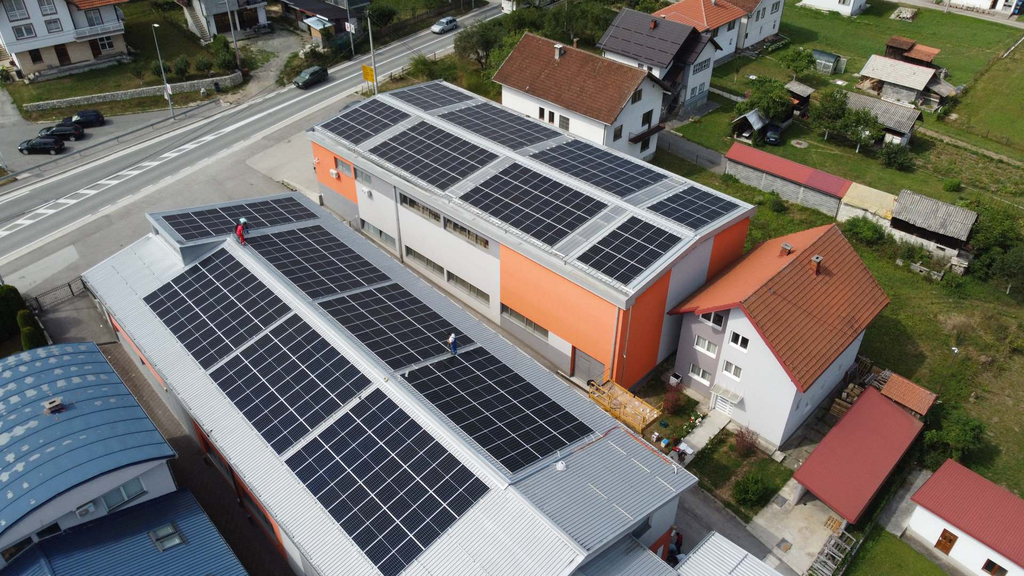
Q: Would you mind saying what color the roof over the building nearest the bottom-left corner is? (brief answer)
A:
blue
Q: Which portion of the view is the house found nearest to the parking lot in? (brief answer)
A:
top left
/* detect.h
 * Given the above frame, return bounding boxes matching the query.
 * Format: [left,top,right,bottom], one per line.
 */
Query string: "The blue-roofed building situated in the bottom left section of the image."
[0,343,254,576]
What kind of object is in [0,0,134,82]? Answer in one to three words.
house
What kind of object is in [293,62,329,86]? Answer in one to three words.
car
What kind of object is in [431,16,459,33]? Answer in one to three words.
car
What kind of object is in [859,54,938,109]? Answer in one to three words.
shed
